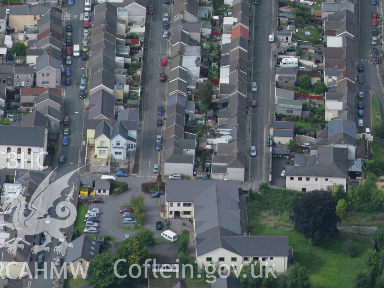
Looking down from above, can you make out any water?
No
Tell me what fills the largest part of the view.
buildings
